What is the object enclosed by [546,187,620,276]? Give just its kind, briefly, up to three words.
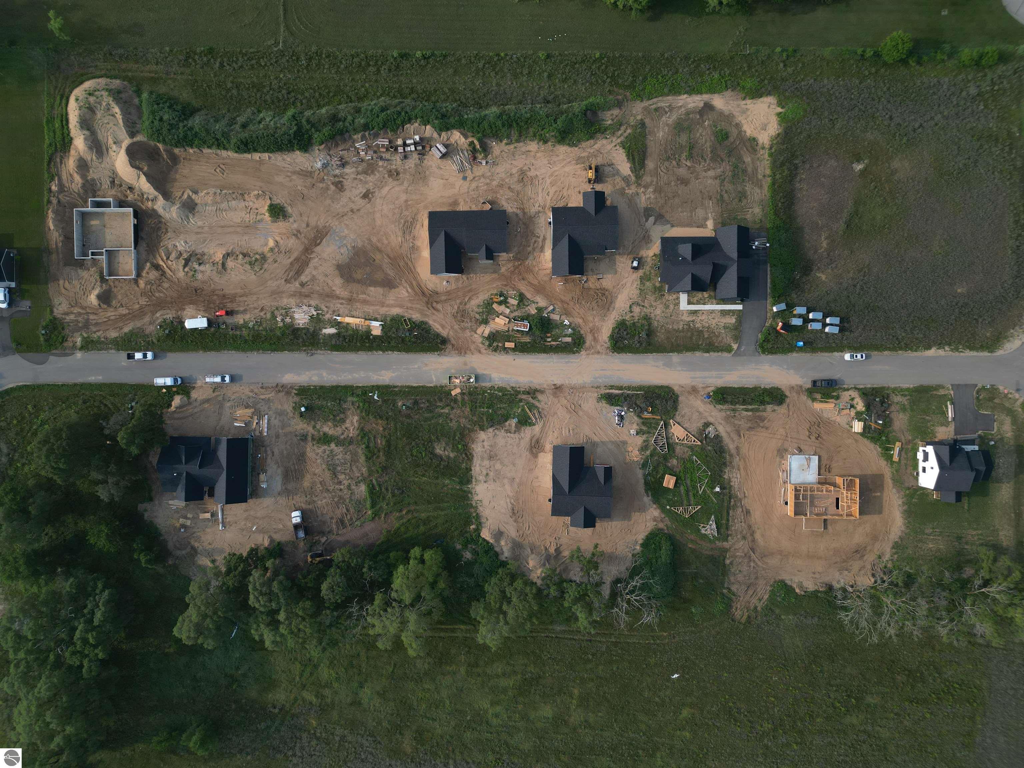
house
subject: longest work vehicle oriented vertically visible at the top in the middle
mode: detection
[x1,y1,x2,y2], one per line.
[586,162,598,187]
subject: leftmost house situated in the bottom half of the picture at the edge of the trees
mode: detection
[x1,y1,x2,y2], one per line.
[155,437,252,507]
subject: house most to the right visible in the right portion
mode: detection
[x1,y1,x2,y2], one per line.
[913,442,987,500]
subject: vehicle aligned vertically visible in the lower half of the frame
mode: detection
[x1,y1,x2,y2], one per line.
[290,508,307,541]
